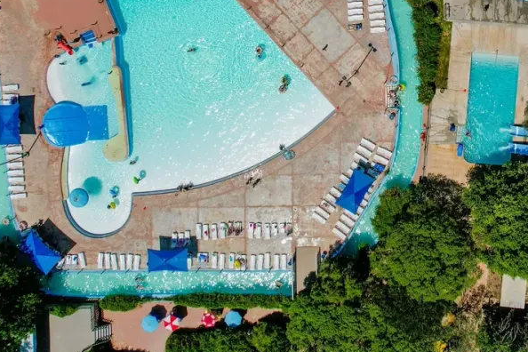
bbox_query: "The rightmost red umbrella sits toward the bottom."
[201,311,217,326]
